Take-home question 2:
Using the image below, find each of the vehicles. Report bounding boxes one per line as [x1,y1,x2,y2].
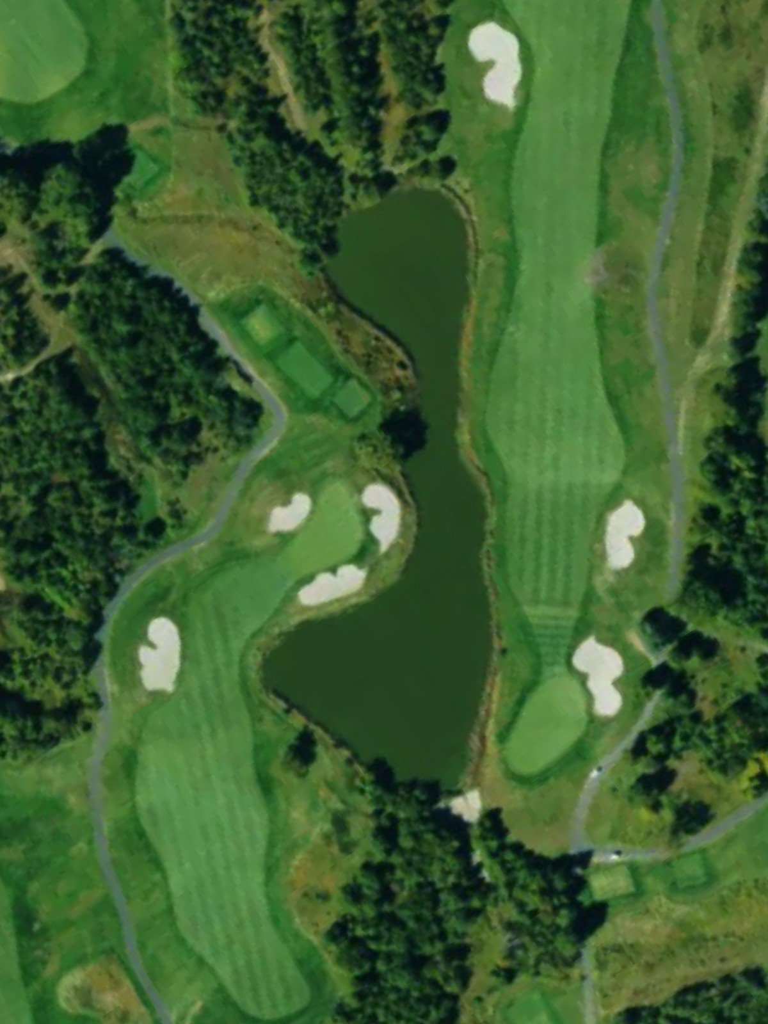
[610,854,619,859]
[591,769,598,778]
